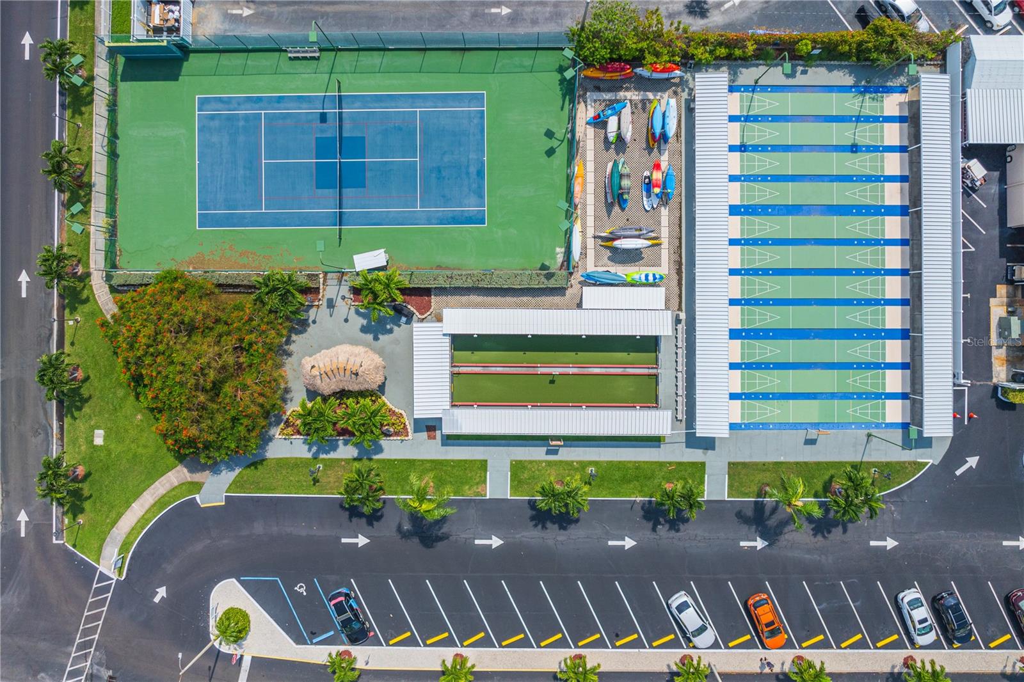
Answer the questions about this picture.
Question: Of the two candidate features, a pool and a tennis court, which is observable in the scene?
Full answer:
I can see a tennis court in this picture.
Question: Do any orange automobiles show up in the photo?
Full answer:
Yes, an orange automobile appears in the view.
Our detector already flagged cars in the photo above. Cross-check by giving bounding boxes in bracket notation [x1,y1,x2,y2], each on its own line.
[881,0,928,35]
[1009,587,1024,635]
[933,590,975,643]
[748,593,785,645]
[896,588,936,643]
[669,591,712,646]
[329,589,371,641]
[968,0,1012,31]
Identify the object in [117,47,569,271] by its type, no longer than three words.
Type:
tennis court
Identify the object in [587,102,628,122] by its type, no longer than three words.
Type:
boat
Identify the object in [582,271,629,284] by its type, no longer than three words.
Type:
boat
